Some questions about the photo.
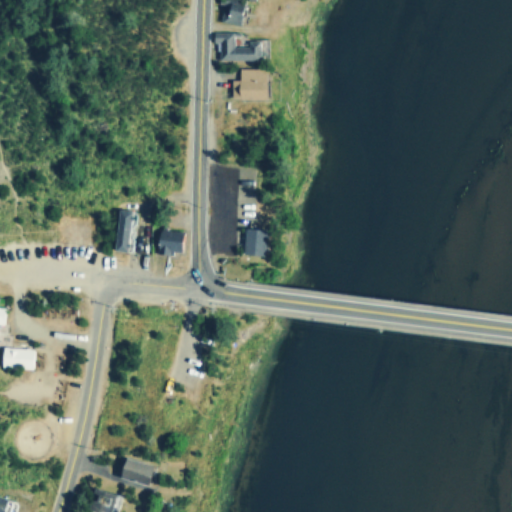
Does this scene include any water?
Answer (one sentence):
Yes, some water is visible.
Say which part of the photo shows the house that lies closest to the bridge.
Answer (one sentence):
The house that lies closest to the bridge is located in the center region of the scene.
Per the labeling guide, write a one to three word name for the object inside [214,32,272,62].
house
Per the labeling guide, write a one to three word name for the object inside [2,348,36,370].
building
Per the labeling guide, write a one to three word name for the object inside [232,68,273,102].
house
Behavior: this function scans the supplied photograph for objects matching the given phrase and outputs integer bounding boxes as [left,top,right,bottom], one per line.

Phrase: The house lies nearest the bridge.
[246,229,268,257]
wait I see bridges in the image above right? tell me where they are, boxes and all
[277,286,512,345]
